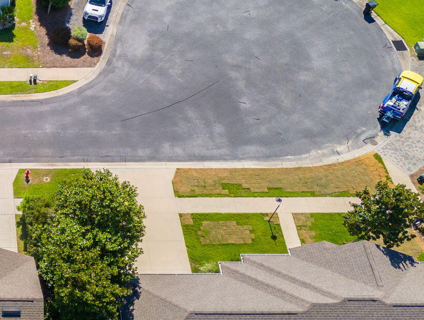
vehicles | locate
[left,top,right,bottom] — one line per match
[83,0,114,25]
[374,71,423,124]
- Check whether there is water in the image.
No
